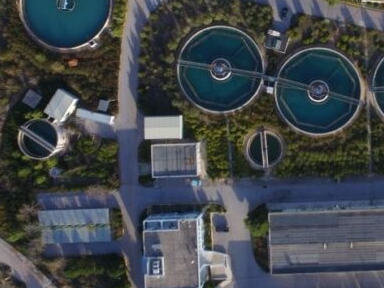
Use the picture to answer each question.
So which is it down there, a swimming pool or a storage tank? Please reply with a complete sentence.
There is a storage tank in the scene.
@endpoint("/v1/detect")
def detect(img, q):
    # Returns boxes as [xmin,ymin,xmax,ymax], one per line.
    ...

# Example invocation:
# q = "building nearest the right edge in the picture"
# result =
[268,204,384,275]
